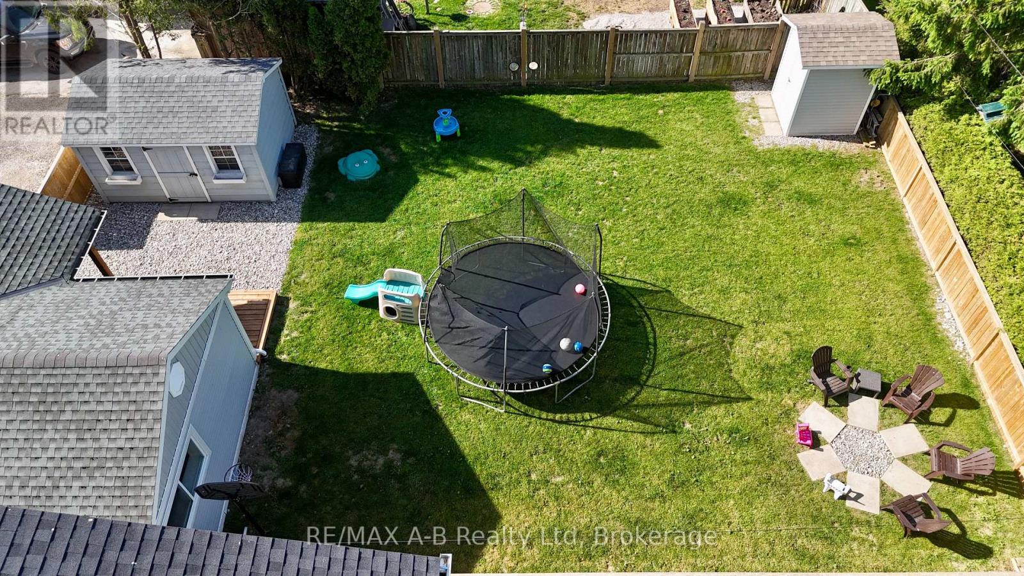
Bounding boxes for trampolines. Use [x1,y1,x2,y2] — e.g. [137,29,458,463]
[417,184,611,413]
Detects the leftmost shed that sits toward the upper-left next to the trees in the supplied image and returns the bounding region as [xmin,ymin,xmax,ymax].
[62,61,296,204]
